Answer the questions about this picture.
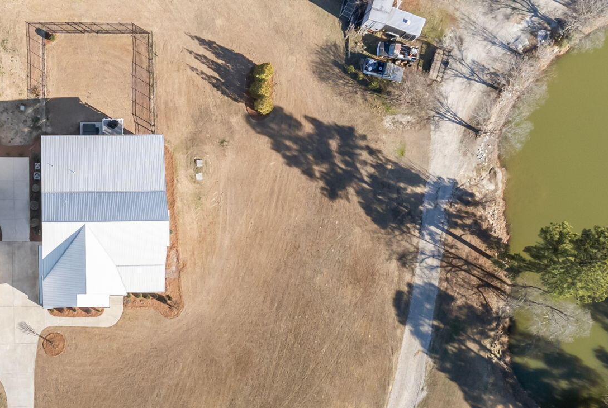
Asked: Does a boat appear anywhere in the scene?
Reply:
No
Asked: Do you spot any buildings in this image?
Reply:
Yes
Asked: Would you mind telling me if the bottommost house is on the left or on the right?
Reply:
left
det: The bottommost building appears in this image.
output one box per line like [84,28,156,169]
[37,133,170,307]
